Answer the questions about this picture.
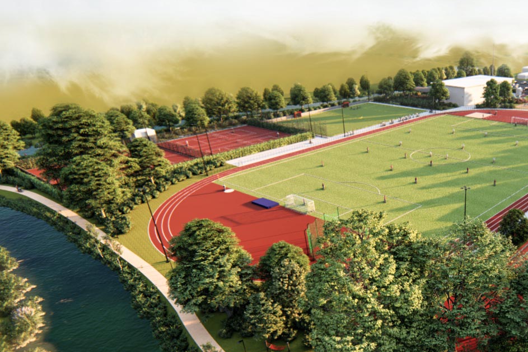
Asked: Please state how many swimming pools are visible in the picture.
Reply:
0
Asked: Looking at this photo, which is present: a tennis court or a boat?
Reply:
tennis court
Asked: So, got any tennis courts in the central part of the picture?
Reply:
Yes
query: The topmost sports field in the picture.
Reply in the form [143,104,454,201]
[279,102,428,138]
